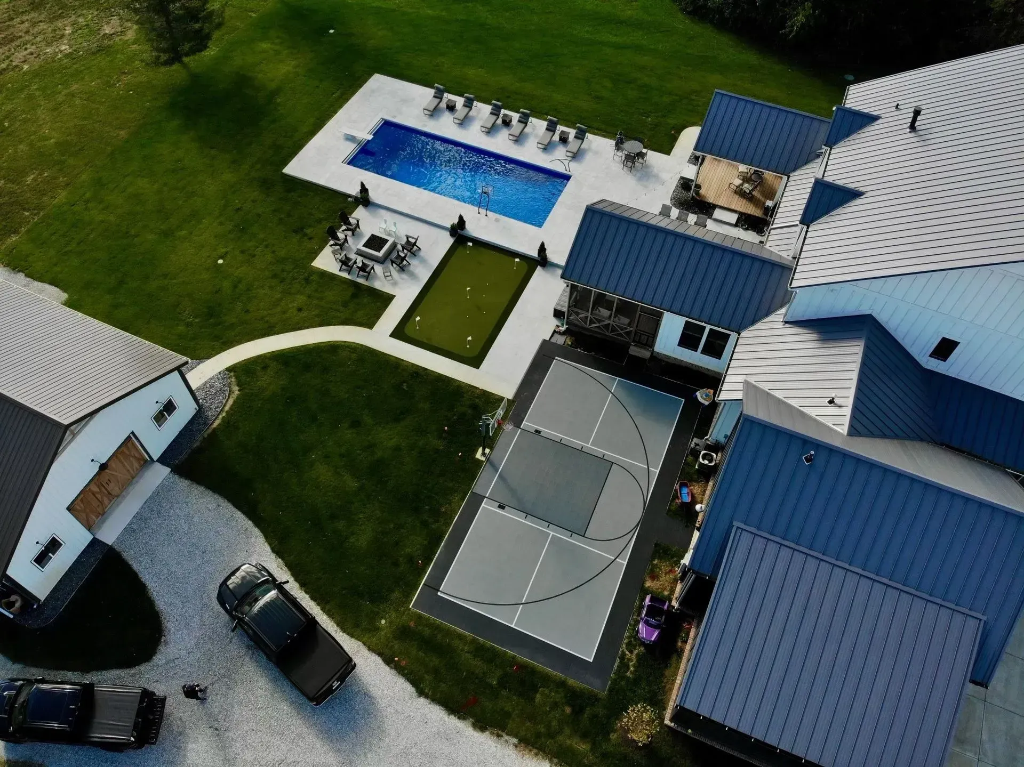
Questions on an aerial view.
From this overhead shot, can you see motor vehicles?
Yes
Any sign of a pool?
Yes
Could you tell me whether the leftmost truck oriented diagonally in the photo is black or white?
black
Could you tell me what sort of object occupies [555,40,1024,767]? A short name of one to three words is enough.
house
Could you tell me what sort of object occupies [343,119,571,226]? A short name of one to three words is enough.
swimming pool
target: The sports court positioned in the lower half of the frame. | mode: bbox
[406,340,699,693]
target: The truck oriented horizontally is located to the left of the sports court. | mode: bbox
[0,663,173,751]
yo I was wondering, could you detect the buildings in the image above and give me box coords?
[0,282,200,621]
[555,40,1024,767]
